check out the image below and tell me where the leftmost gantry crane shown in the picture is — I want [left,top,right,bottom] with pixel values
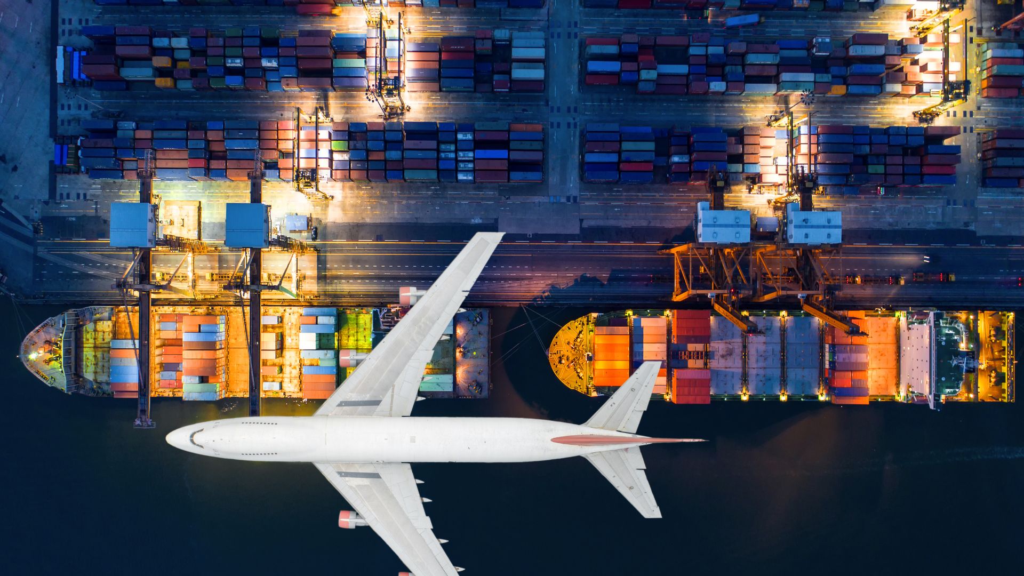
[92,142,237,429]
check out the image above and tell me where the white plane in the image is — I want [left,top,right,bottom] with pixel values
[167,232,706,576]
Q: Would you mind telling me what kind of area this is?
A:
port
